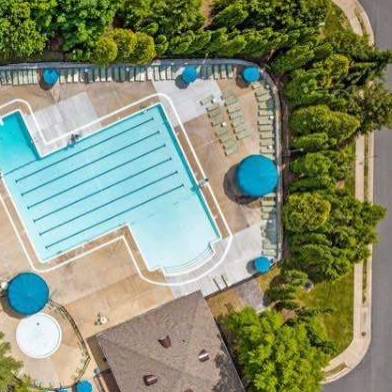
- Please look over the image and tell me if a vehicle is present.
No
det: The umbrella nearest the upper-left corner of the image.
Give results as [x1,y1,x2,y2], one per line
[41,68,58,85]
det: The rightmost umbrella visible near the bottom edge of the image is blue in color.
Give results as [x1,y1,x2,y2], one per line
[74,378,92,392]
